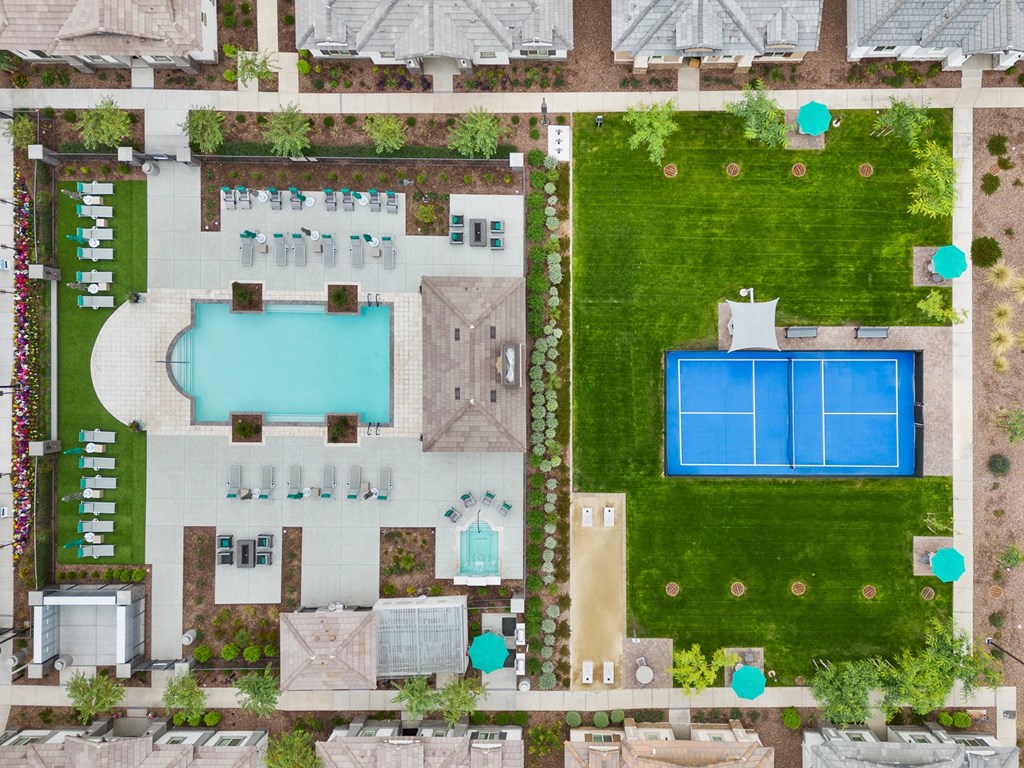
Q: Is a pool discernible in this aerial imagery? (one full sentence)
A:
Yes, this view includes a pool.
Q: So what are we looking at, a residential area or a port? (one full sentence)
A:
The area seen from above is a residential area.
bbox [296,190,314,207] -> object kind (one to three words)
umbrella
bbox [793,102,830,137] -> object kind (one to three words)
umbrella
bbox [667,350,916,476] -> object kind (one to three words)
sports court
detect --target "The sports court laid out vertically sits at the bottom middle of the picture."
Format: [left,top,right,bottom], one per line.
[571,493,626,690]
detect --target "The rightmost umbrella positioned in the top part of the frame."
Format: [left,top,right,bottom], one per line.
[921,244,967,280]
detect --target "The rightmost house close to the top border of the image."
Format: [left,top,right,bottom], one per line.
[847,0,1024,71]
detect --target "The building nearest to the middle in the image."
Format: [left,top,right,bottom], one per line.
[419,274,528,454]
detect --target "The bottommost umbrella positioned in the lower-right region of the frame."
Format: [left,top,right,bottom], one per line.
[730,662,766,701]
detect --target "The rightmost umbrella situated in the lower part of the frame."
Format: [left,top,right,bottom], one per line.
[920,547,964,581]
